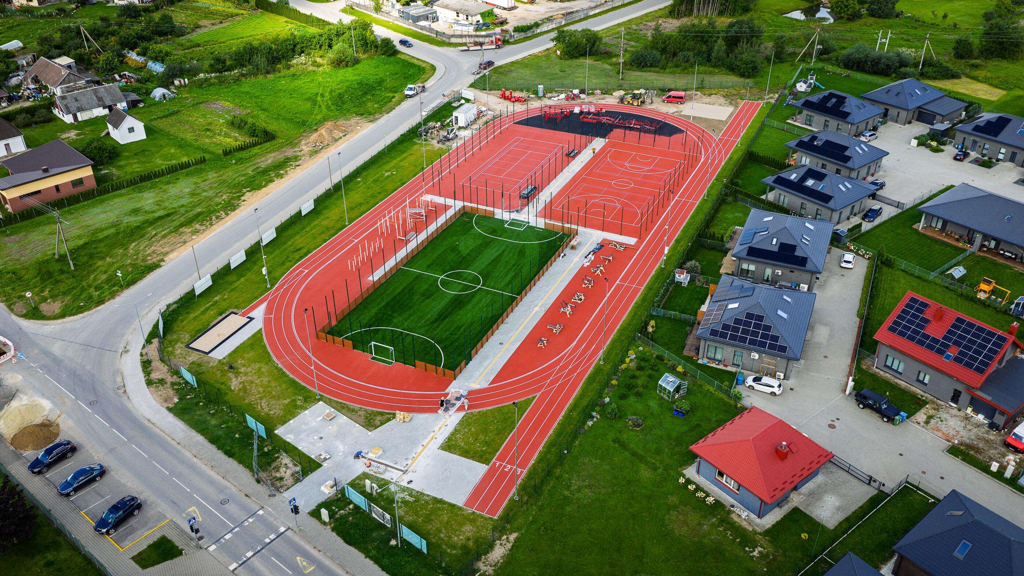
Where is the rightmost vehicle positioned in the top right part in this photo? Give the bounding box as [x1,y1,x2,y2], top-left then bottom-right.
[954,150,971,162]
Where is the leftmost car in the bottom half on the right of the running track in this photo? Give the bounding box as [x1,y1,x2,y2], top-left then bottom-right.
[745,377,784,398]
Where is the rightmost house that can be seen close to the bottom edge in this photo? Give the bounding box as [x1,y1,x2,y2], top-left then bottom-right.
[891,489,1024,576]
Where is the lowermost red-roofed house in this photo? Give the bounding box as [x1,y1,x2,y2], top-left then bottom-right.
[688,406,837,518]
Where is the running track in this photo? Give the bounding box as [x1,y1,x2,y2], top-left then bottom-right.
[262,103,715,413]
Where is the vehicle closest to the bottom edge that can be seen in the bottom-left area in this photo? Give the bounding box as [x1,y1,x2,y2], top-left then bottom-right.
[94,496,144,535]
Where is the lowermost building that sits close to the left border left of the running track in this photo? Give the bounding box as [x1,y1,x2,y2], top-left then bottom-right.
[0,139,98,213]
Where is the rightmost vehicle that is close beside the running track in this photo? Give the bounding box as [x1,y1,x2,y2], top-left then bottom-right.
[661,91,687,105]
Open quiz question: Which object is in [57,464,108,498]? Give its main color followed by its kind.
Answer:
blue car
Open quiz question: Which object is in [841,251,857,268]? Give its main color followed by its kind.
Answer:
white car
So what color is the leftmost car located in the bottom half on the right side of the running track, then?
white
